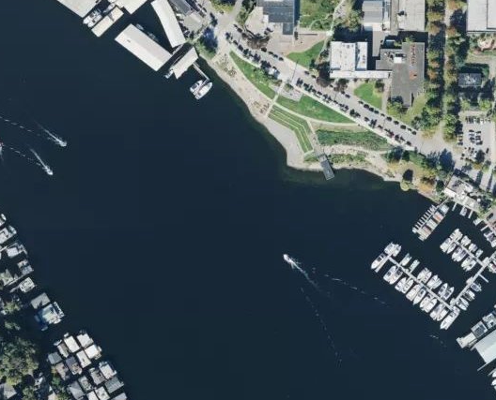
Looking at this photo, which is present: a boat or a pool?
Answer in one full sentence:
There is a boat in the scene.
